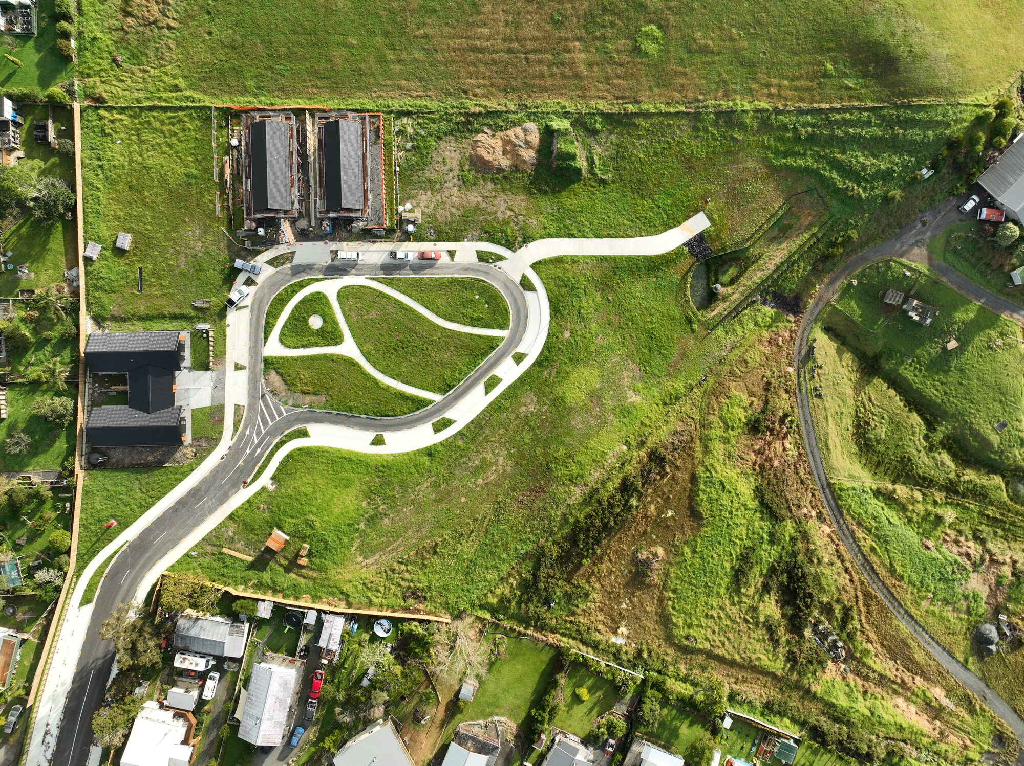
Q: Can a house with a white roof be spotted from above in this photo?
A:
Yes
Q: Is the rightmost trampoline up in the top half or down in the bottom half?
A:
bottom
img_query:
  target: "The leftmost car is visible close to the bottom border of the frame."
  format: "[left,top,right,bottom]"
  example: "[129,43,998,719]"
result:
[2,703,24,734]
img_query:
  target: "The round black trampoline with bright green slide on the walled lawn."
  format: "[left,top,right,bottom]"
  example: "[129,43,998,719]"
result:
[281,612,302,635]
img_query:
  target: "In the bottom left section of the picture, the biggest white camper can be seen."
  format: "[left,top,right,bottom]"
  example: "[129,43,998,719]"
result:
[178,654,220,673]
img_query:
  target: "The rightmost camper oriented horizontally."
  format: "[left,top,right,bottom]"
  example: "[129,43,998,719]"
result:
[968,208,1002,223]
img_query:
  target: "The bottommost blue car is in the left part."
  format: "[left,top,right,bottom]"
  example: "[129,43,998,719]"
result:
[290,725,306,748]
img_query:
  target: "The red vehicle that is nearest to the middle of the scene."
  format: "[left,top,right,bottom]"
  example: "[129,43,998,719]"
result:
[418,249,442,261]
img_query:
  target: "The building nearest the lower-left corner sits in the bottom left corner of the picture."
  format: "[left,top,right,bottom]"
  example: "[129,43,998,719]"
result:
[0,635,29,692]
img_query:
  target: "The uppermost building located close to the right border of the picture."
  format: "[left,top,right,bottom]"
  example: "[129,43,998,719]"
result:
[974,129,1024,232]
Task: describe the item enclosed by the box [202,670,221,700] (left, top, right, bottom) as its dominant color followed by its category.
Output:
white car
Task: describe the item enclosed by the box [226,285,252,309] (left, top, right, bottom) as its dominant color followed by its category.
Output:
white truck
